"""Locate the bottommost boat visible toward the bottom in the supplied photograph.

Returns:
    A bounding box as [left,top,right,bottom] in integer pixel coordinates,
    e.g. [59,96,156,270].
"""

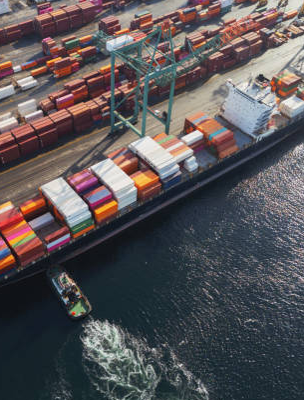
[55,264,93,320]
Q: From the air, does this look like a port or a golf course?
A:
port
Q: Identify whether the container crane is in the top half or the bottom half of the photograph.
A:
top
